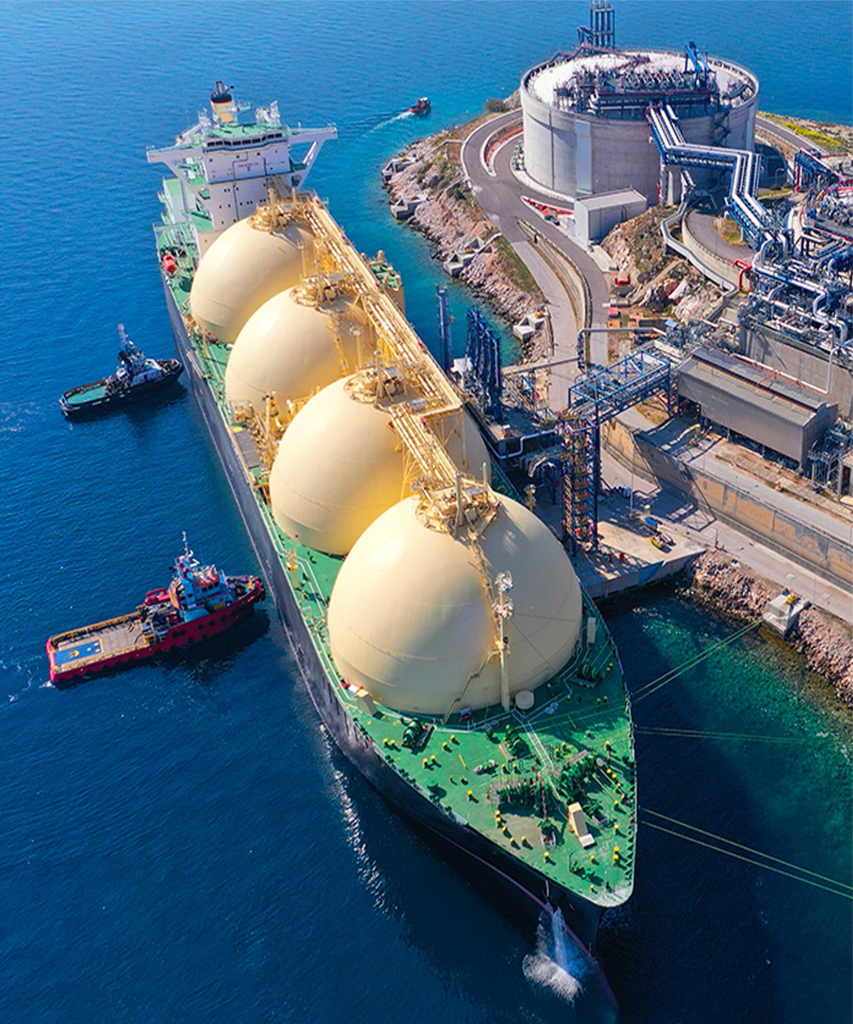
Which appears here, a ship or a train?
ship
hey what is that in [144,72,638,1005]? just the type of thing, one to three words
ship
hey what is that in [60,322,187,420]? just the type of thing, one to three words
boat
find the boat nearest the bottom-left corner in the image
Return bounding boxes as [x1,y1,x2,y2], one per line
[46,523,271,684]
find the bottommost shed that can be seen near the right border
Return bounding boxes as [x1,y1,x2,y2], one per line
[676,348,844,465]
